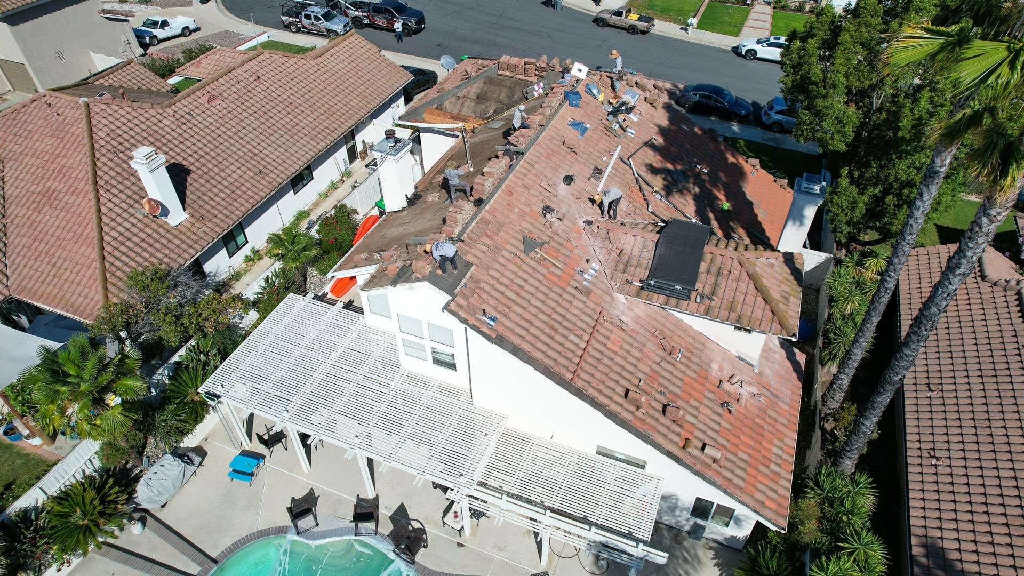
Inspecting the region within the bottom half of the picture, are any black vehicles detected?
No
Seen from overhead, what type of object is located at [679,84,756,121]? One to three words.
car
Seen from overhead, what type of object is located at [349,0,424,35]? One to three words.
truck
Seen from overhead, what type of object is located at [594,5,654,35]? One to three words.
truck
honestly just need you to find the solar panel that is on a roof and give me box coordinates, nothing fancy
[629,217,715,300]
